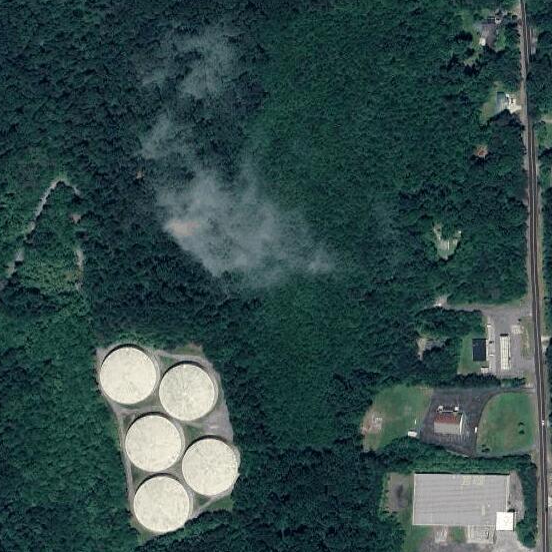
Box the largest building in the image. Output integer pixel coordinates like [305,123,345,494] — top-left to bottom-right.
[413,474,510,525]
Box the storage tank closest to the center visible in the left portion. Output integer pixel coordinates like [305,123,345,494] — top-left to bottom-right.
[160,362,220,421]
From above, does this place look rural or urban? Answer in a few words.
rural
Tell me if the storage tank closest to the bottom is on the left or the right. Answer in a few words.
left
